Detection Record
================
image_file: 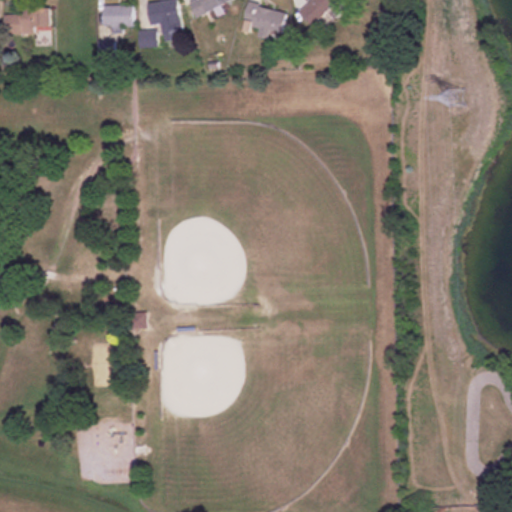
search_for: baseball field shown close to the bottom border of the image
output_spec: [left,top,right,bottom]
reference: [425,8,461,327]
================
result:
[159,321,372,512]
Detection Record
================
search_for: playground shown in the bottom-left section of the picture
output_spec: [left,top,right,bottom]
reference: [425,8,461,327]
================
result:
[74,416,137,487]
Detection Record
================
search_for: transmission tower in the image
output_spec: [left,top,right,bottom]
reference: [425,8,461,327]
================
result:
[424,86,466,108]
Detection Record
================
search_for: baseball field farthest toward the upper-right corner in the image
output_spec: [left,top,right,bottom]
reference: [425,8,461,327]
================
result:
[160,120,370,307]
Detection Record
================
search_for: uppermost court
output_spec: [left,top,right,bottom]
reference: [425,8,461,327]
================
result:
[92,342,112,388]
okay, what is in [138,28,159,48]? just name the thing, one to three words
building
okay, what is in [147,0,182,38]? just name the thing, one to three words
house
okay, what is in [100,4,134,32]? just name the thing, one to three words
house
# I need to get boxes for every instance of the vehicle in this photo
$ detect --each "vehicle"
[98,0,104,12]
[296,12,302,23]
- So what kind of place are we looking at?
sports ground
